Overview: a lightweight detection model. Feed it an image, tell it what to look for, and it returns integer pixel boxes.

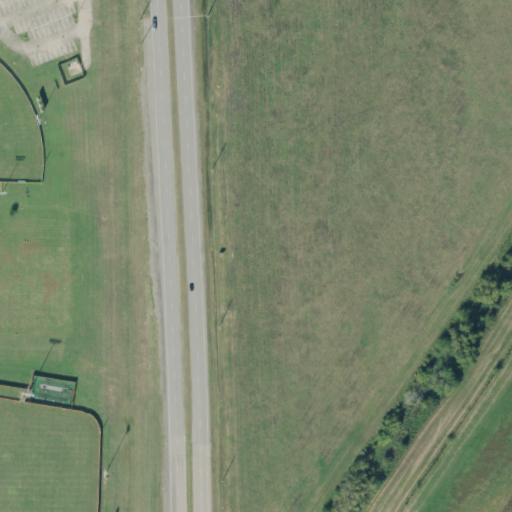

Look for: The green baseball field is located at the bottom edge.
[0,398,100,512]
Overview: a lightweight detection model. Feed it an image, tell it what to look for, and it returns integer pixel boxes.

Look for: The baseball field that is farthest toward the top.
[0,64,42,182]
